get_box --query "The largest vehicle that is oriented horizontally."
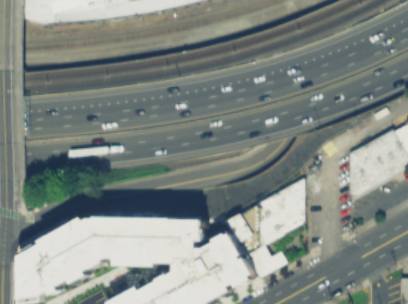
[68,144,124,156]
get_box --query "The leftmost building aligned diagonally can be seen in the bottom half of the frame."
[227,213,254,244]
